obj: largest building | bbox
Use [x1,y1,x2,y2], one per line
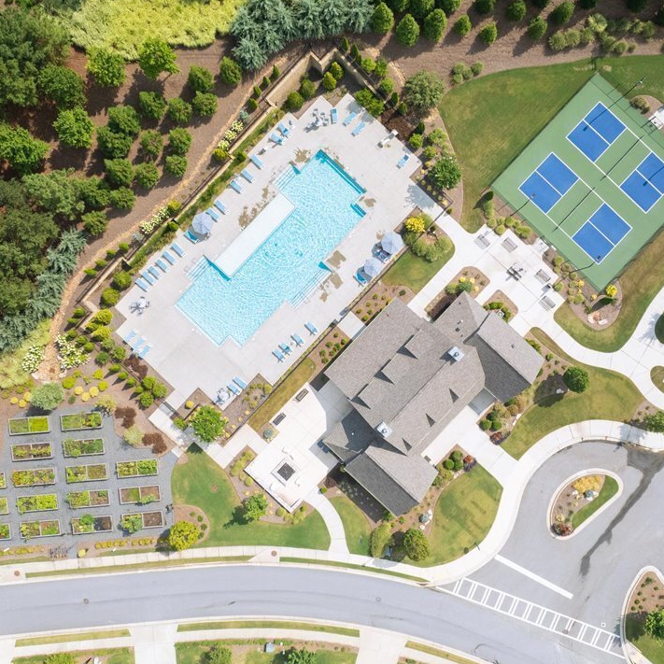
[322,291,545,516]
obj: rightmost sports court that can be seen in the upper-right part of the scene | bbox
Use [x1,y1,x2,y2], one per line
[621,151,664,210]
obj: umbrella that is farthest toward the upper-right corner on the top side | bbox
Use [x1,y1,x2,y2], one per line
[381,231,403,253]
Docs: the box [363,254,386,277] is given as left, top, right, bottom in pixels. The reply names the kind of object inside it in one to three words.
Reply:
umbrella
